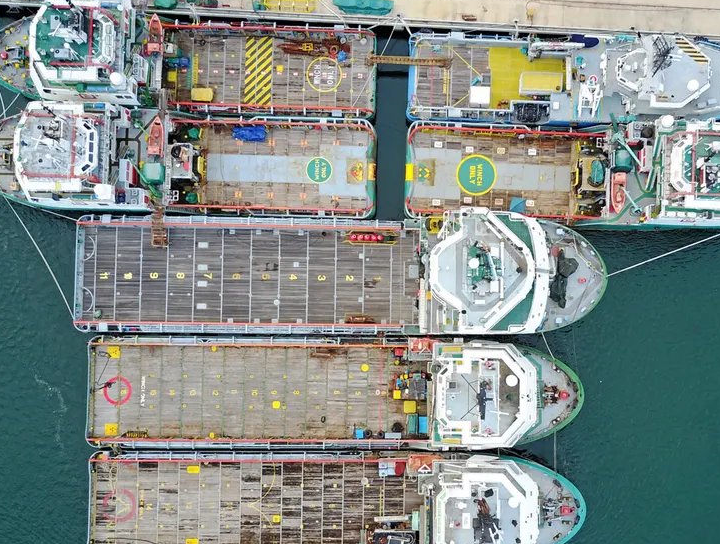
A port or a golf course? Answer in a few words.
port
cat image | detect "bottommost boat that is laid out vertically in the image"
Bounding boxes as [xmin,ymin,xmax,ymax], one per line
[612,173,626,213]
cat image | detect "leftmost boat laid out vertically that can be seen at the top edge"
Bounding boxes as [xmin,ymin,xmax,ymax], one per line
[147,14,166,58]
